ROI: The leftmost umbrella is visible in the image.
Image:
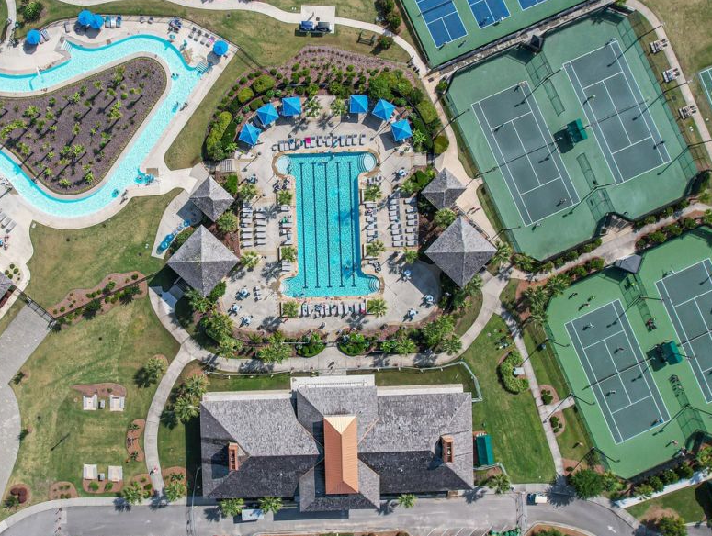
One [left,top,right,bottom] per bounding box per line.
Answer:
[27,28,43,45]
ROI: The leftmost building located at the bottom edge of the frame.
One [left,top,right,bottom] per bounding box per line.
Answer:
[200,371,473,511]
